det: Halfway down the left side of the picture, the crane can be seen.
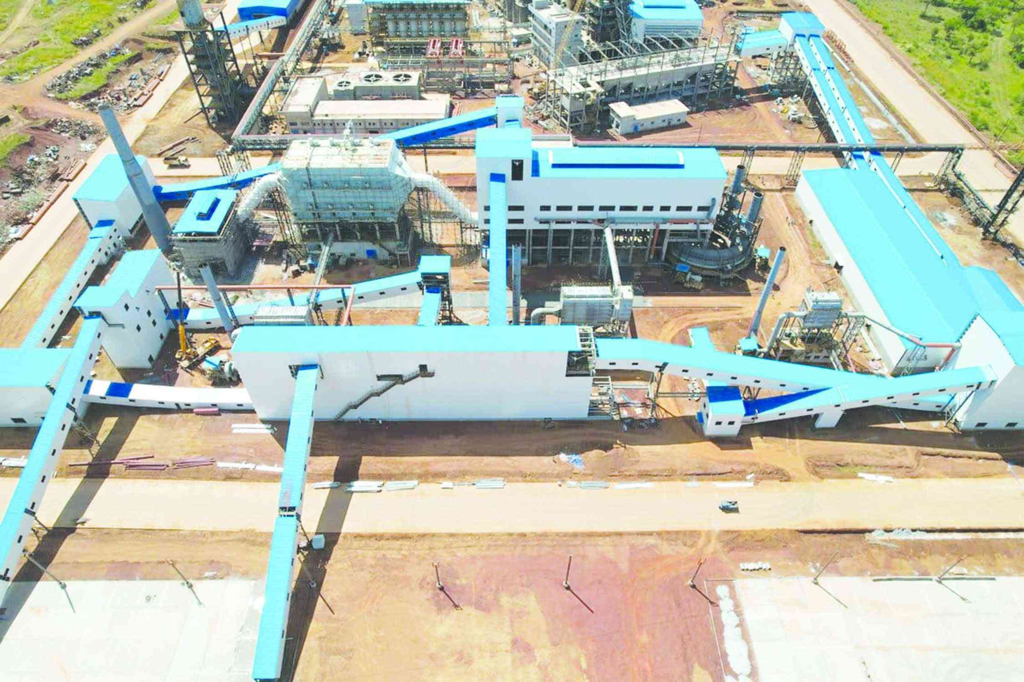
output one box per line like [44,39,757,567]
[174,267,214,370]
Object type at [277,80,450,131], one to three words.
building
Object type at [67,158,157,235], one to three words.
building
